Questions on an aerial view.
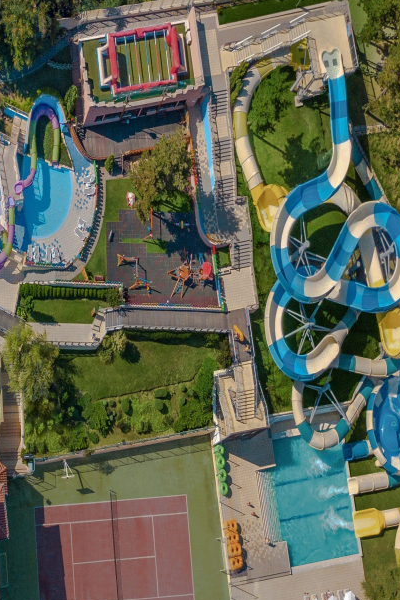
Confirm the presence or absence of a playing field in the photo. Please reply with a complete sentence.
Yes, there's a playing field down there.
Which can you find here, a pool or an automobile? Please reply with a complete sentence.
Visible in the photo is a pool.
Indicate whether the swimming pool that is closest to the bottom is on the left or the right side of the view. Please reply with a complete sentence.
The swimming pool that is closest to the bottom sits on the right side.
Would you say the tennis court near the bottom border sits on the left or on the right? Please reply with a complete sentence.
The tennis court near the bottom border is on the left side of the image.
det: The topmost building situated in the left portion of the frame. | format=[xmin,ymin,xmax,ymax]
[70,6,206,122]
